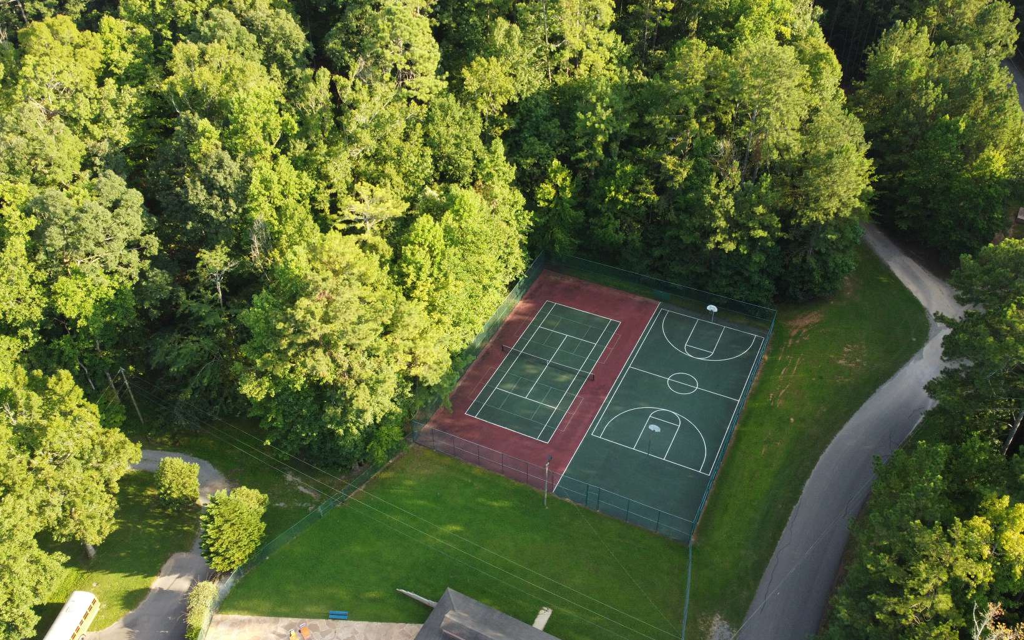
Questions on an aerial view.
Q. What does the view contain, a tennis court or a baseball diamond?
tennis court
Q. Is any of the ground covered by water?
No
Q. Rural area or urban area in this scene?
rural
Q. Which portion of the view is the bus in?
bottom left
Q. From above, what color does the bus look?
white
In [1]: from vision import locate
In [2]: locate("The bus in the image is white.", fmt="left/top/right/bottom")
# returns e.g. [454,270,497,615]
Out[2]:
[45,594,104,640]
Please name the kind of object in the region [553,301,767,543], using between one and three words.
basketball court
